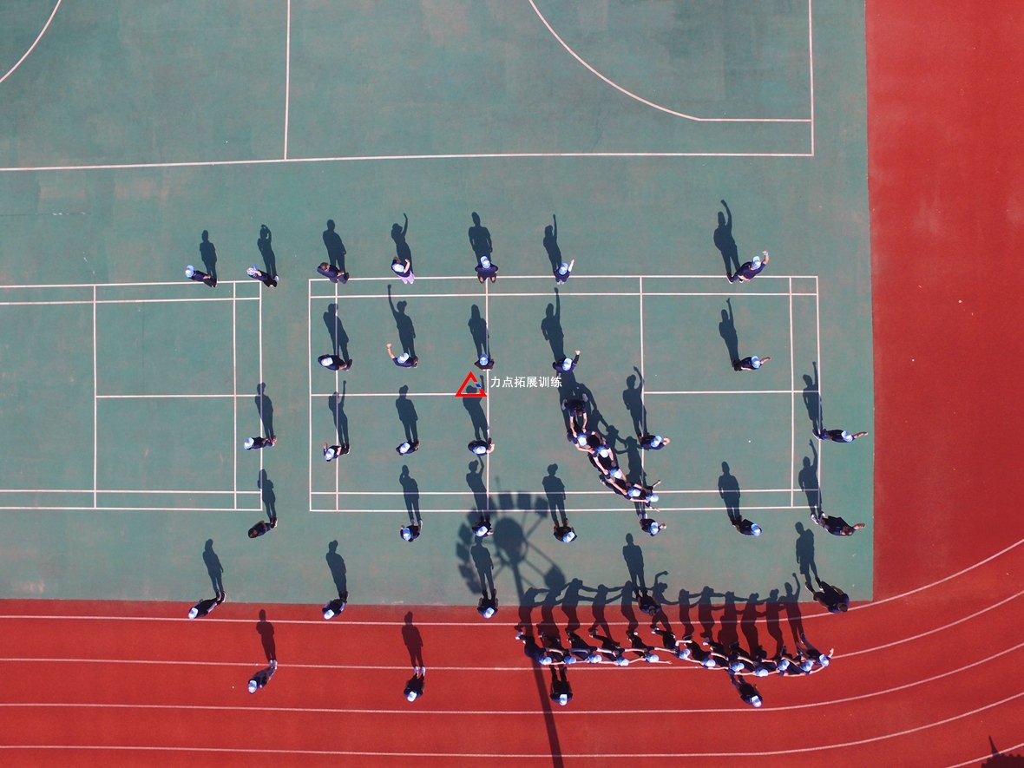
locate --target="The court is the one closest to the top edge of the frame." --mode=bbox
[0,0,814,170]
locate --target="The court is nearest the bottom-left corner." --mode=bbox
[0,280,262,511]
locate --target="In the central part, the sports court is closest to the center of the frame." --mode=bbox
[308,276,821,512]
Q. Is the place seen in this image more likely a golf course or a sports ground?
sports ground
